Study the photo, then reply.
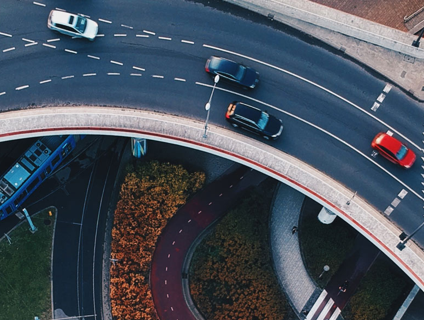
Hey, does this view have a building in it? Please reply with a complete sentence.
No, there is no building in the image.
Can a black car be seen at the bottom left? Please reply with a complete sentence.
No, I see no black car at the bottom left.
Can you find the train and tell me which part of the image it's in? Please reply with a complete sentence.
The train is in the left part of the image.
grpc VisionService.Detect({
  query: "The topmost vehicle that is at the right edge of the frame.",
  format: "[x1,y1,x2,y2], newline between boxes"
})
[370,132,419,170]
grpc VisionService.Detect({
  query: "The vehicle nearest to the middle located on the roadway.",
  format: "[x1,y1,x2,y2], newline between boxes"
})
[225,102,284,141]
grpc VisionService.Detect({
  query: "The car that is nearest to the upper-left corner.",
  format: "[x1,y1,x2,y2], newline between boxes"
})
[47,7,101,43]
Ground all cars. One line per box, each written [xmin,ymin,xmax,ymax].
[47,7,101,43]
[370,132,419,170]
[205,57,261,92]
[225,102,284,141]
